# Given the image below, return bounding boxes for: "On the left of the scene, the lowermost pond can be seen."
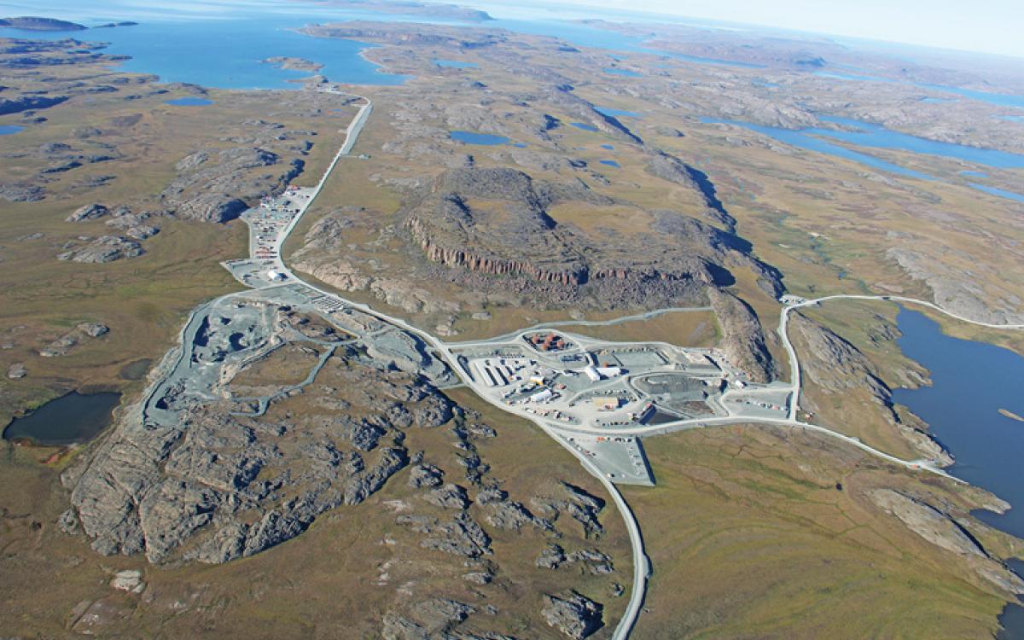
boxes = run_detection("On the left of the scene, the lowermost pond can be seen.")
[2,392,121,444]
